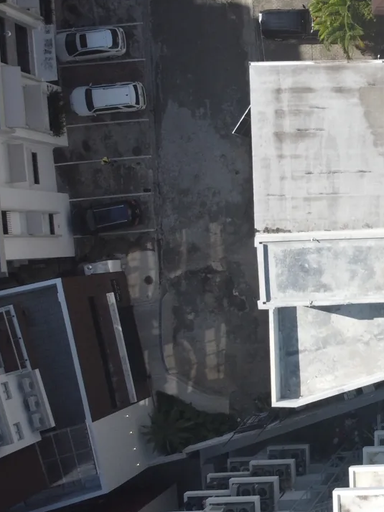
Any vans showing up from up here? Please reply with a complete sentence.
Yes, a van can be made out from above.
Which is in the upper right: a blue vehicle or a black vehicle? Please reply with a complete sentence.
The feature located in the upper right is a black vehicle.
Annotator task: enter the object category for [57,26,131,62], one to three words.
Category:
car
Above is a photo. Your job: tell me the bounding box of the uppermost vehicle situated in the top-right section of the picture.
[255,6,317,41]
